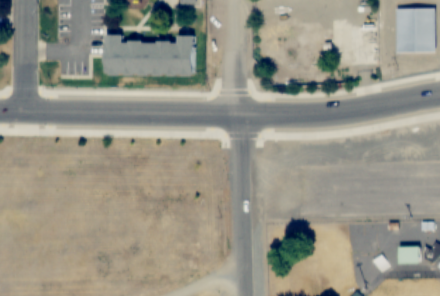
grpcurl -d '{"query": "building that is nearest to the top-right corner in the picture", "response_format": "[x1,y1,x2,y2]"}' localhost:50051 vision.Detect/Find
[396,8,438,52]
